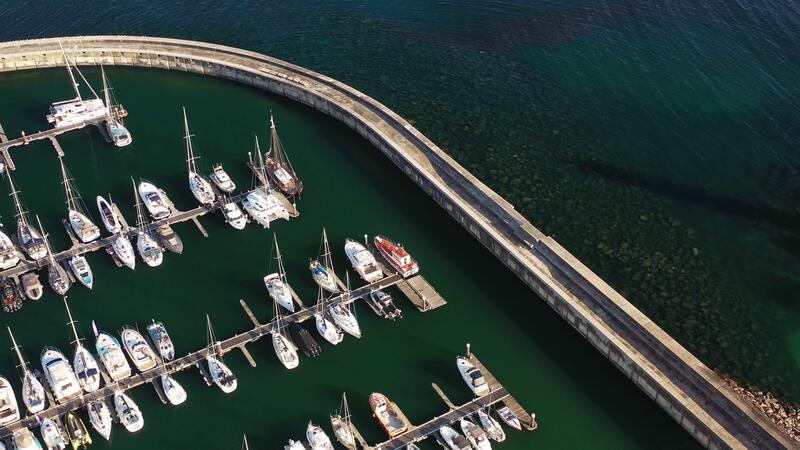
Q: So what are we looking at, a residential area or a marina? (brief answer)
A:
marina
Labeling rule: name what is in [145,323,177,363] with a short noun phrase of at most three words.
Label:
boat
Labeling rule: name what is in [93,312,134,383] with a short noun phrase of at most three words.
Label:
boat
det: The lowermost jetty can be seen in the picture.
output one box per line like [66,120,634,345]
[348,352,537,450]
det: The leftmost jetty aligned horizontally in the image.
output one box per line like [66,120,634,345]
[0,115,113,171]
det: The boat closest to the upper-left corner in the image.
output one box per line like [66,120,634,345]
[47,38,110,130]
